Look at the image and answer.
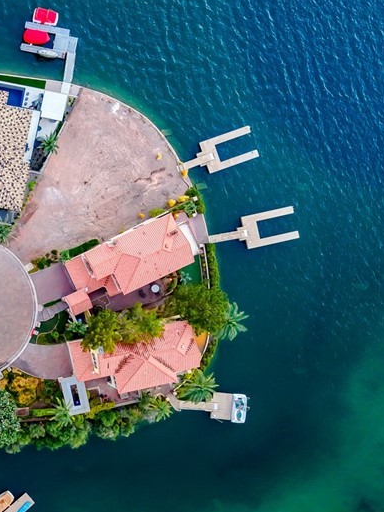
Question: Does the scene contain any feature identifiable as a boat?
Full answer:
Yes, the frame does contain a boat.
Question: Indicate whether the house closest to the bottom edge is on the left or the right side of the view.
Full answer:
The house closest to the bottom edge sits on the left side.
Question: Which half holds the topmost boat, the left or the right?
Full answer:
The topmost boat sits on the left side.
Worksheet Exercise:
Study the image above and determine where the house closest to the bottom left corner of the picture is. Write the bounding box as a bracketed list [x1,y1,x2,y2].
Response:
[65,321,202,393]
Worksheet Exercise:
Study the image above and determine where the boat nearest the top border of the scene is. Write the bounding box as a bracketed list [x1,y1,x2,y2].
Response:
[31,3,59,26]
